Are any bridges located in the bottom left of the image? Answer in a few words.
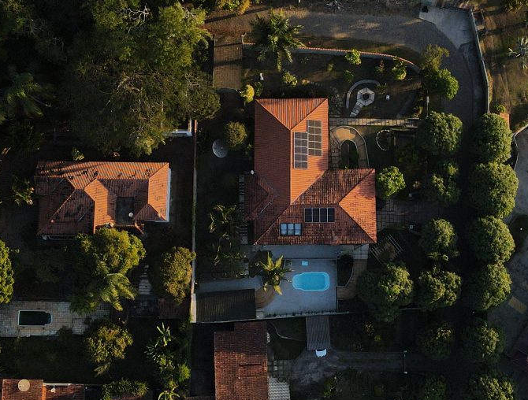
No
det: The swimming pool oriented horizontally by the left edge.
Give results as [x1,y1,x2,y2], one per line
[17,311,52,327]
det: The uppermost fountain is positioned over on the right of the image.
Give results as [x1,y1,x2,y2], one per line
[356,89,374,106]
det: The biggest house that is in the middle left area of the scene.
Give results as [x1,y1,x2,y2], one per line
[34,162,169,235]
